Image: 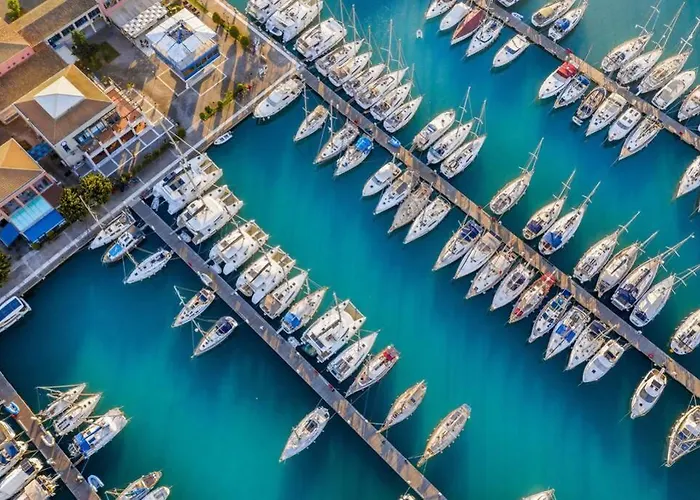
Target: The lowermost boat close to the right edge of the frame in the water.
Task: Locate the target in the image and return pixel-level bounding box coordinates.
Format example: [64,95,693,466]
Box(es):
[656,410,700,474]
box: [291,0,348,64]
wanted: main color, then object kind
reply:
white boat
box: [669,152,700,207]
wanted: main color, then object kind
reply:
white boat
